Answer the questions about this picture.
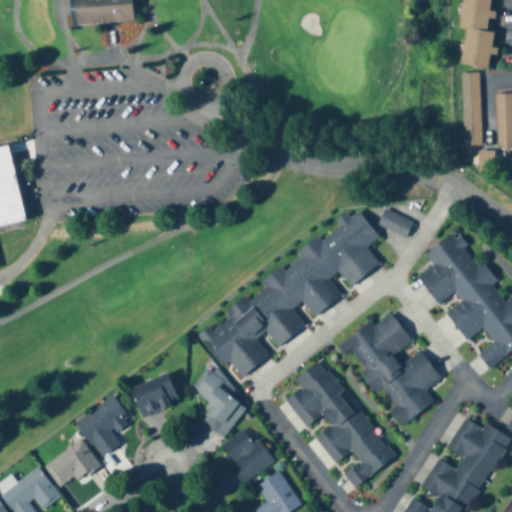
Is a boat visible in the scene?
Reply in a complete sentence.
No, no boat can be seen from above.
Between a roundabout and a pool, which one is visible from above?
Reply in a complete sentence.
It is a roundabout that can be seen here.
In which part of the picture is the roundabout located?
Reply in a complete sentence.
The roundabout is located in the top region of the scene.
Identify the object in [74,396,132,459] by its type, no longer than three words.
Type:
house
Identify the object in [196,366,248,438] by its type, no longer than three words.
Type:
house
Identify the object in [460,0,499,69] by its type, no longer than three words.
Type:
building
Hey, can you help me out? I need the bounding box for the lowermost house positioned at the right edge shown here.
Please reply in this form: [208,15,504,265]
[406,414,512,512]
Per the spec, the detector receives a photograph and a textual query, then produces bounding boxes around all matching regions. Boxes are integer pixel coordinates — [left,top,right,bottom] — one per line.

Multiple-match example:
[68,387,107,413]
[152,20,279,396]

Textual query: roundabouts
[172,51,237,128]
